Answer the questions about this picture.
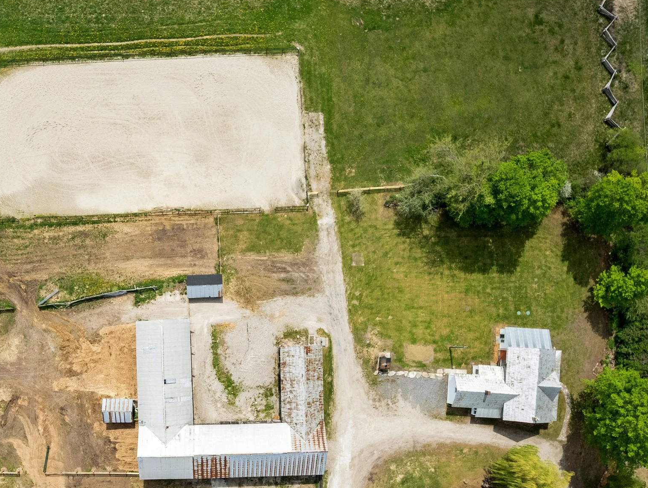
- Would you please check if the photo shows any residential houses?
Yes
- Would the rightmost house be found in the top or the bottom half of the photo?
bottom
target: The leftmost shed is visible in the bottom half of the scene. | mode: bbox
[101,398,138,423]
